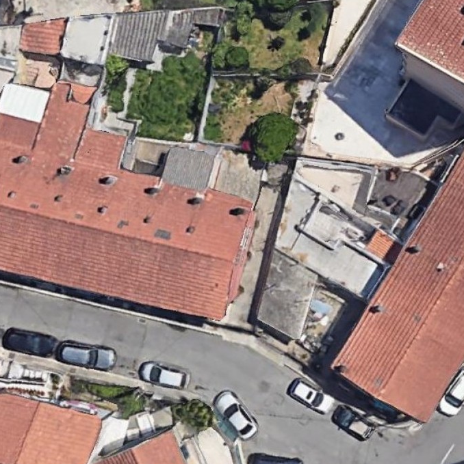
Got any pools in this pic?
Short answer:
No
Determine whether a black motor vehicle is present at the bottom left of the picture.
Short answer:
Yes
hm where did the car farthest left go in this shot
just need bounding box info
[0,326,57,360]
